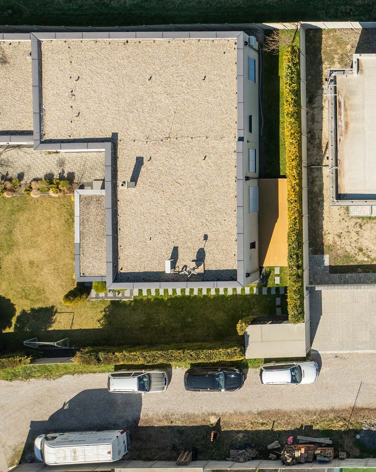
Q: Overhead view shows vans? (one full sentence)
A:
Yes, there's a van here.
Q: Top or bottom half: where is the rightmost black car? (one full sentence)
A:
The rightmost black car sits in the bottom half of the picture.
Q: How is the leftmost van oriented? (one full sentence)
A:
The leftmost van runs from left to right in the image.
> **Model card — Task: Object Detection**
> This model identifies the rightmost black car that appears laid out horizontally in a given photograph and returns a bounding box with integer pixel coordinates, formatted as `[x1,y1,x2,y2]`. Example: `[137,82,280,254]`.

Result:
[183,366,245,396]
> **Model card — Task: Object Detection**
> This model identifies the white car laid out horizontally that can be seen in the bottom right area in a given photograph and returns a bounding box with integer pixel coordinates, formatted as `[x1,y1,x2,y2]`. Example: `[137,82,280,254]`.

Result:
[258,359,319,389]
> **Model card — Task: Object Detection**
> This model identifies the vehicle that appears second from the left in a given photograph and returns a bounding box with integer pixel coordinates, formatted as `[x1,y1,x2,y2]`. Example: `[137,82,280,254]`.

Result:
[105,369,170,398]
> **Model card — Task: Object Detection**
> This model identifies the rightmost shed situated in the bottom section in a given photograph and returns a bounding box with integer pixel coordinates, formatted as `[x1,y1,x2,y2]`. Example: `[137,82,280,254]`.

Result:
[245,319,306,360]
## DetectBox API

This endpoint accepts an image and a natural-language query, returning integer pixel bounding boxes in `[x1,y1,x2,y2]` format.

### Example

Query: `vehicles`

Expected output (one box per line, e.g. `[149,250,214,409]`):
[105,369,170,398]
[258,359,319,389]
[183,366,245,396]
[36,428,130,469]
